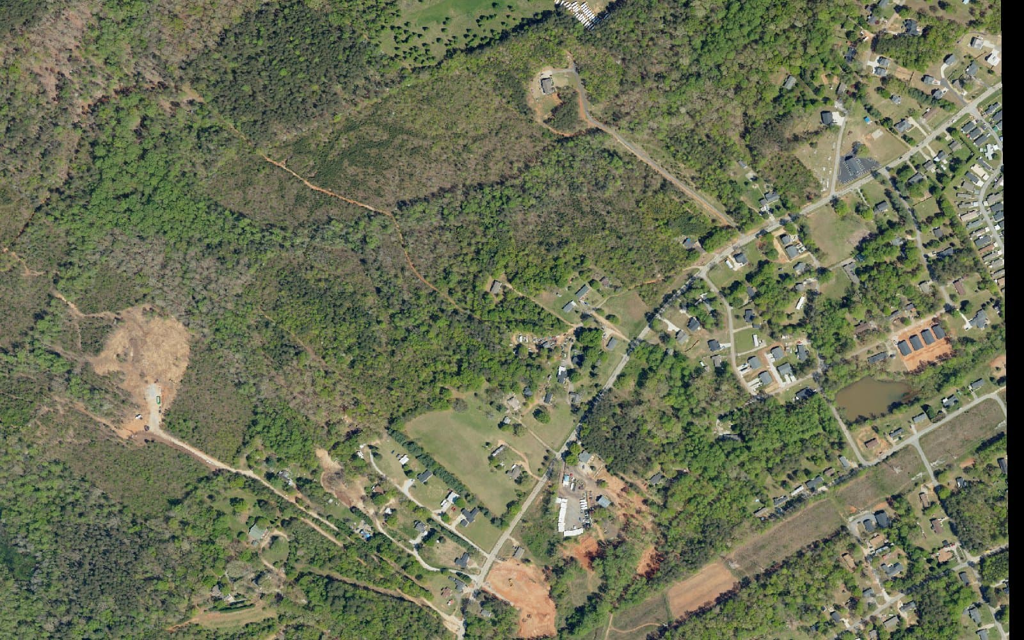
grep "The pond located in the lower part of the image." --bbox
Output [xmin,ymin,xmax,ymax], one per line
[835,376,912,420]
